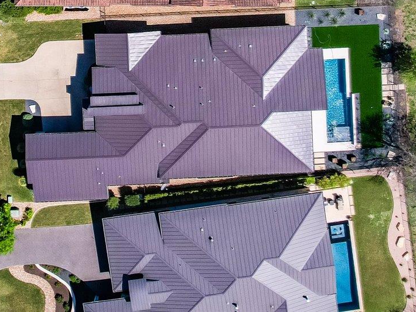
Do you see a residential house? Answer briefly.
Yes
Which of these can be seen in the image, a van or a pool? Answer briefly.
pool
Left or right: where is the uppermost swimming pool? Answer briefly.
right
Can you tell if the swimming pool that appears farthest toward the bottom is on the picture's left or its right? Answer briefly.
right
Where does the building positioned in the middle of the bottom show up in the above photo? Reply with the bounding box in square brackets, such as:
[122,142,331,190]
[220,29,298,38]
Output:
[83,188,338,312]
